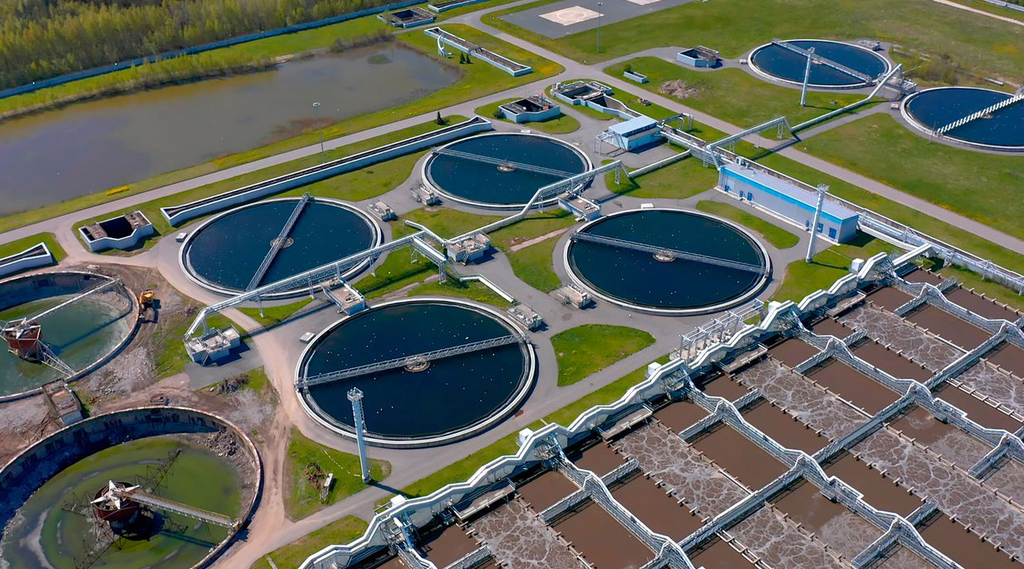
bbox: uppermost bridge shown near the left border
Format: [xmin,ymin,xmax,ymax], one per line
[15,275,126,326]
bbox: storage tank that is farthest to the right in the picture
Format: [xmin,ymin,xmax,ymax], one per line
[900,86,1024,152]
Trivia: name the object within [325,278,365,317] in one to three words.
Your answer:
building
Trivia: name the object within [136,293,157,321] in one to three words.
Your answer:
work vehicle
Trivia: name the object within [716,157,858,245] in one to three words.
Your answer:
building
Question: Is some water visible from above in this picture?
Yes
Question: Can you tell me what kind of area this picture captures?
industrial area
